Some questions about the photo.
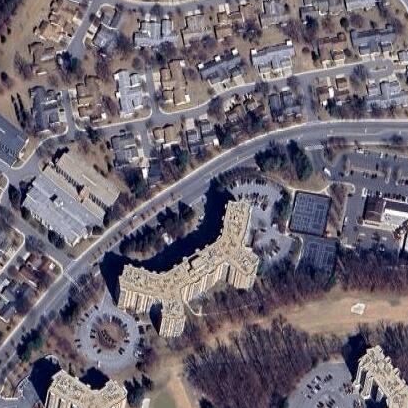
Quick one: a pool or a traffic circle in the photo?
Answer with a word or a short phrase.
traffic circle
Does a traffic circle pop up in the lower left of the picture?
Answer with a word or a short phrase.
Yes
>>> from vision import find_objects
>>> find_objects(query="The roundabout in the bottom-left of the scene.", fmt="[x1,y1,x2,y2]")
[75,303,141,369]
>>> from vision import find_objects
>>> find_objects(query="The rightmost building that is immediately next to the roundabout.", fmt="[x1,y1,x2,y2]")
[117,200,260,337]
